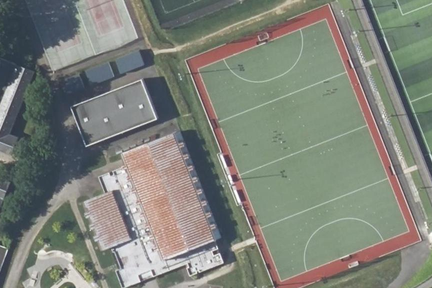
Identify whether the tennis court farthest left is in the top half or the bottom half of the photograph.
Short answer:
top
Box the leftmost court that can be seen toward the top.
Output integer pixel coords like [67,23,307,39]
[26,0,94,71]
